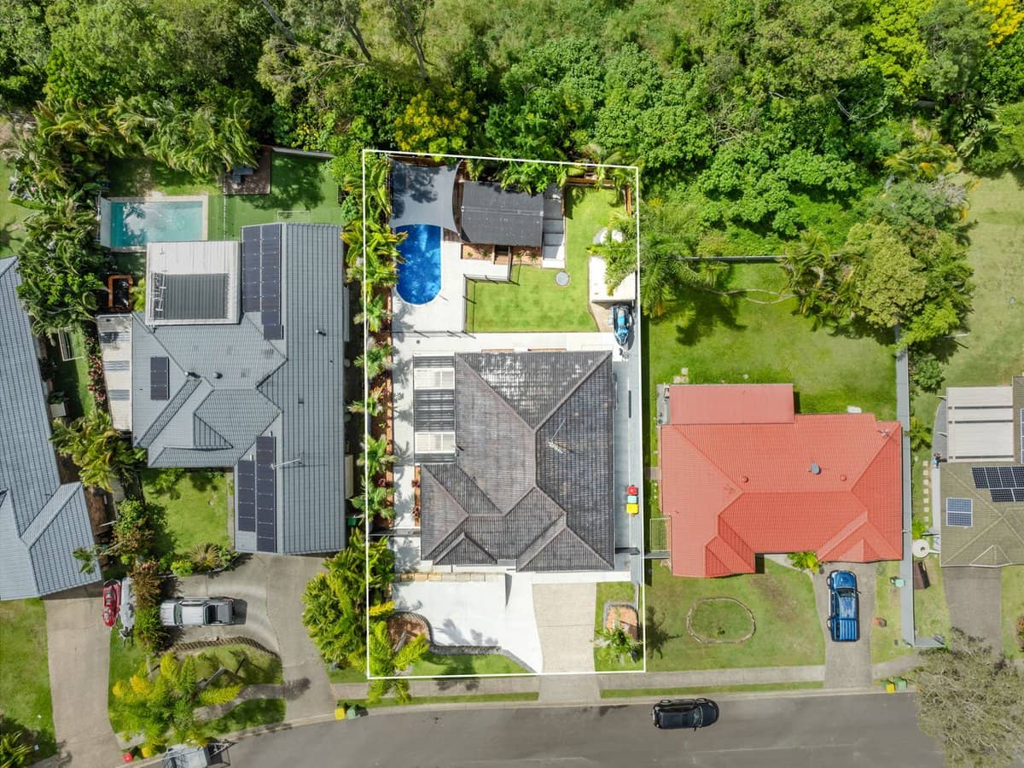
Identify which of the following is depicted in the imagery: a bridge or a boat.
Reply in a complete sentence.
Visible in the photo is a boat.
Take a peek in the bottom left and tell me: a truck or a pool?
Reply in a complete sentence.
What appears in the bottom left is a truck.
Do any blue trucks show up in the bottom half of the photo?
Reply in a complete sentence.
Yes, a blue truck can be seen in the bottom half of the photo.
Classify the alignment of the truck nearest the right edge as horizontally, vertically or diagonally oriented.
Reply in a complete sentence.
The truck nearest the right edge is oriented vertically.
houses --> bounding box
[420,350,616,574]
[0,257,114,608]
[661,383,903,578]
[938,374,1024,569]
[129,221,345,555]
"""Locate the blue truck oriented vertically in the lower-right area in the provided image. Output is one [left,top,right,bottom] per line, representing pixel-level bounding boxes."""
[823,567,860,643]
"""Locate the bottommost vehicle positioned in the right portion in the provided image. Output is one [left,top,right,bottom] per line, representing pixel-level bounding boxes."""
[651,696,717,732]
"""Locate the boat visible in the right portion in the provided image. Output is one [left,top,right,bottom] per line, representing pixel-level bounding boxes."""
[613,303,631,350]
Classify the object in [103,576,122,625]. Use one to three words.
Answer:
boat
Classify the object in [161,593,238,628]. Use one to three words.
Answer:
truck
